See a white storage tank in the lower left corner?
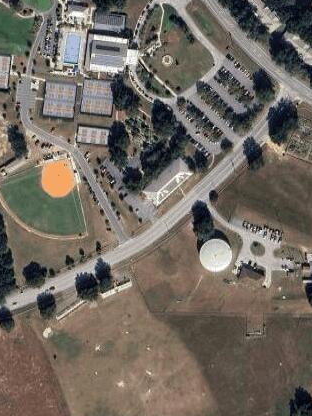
No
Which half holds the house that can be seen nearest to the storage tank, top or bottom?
bottom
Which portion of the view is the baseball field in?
left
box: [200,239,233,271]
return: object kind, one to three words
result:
storage tank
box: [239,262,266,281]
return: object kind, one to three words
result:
house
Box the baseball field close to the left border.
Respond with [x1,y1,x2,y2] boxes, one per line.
[0,159,87,239]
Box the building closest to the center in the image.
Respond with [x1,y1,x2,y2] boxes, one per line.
[139,158,194,204]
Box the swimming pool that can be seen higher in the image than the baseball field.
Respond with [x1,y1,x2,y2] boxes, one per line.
[64,32,81,64]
